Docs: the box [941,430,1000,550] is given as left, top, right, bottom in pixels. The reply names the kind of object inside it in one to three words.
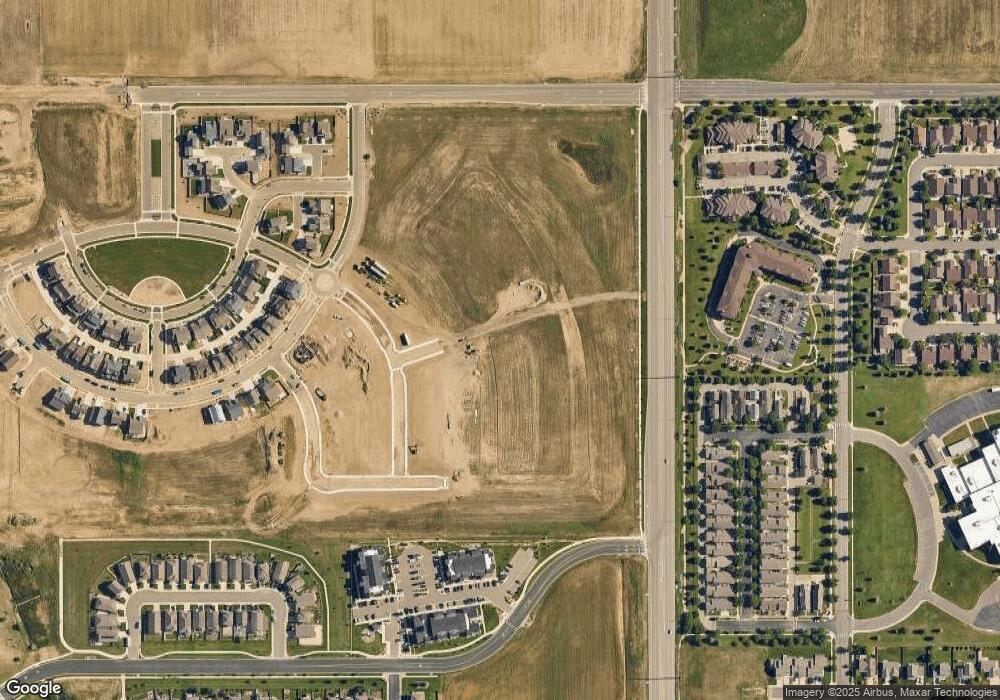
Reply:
building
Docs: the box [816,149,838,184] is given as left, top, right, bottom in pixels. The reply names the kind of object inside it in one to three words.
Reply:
house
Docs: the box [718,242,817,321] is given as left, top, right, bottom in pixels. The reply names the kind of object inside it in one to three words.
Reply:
building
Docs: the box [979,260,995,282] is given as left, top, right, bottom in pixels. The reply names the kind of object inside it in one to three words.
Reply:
house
